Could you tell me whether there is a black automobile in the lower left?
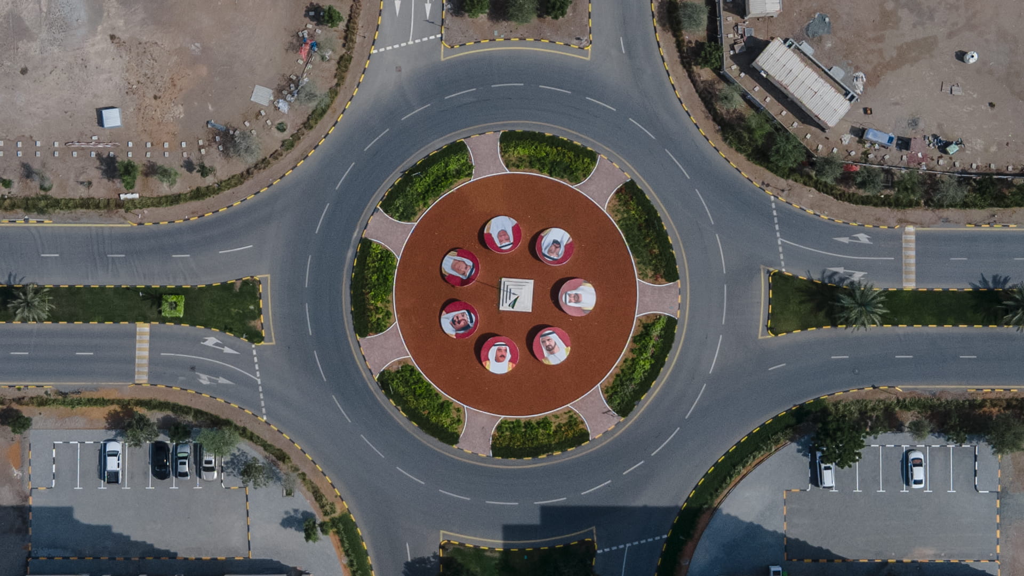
Yes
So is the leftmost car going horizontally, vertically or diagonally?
vertically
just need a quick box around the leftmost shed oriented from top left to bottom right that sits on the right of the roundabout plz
[752,38,851,129]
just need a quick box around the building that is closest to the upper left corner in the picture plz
[101,108,122,128]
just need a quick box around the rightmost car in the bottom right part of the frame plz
[907,449,925,489]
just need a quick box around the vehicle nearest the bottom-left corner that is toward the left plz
[103,439,123,484]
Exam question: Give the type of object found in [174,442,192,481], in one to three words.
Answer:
car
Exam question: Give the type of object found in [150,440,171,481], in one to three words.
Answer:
car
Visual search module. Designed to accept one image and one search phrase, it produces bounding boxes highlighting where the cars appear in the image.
[199,441,218,482]
[815,445,834,489]
[907,449,925,489]
[103,439,123,484]
[150,440,171,481]
[174,442,192,481]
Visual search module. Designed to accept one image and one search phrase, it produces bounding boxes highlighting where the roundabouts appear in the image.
[273,52,758,537]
